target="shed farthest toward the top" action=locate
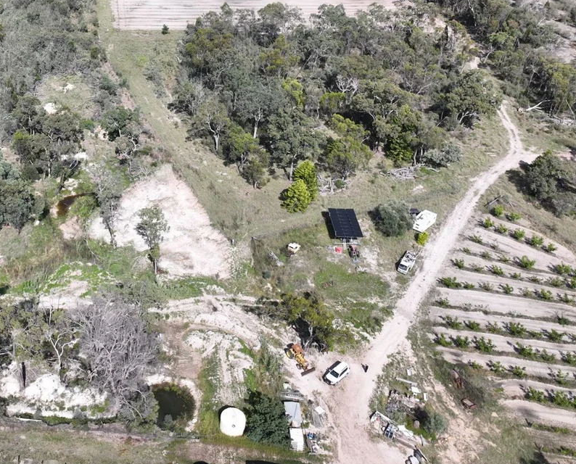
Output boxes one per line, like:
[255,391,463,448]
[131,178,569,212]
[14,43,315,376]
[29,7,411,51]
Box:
[284,402,304,431]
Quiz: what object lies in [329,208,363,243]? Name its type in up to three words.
solar array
